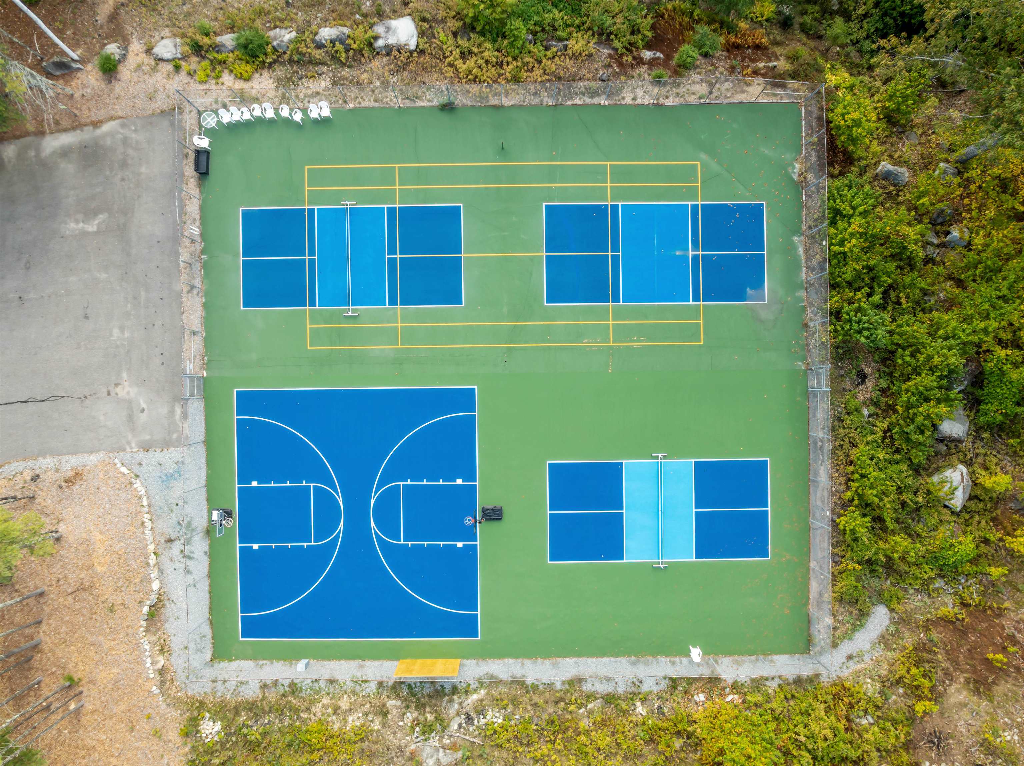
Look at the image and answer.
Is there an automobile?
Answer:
No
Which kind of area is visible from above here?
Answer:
sports ground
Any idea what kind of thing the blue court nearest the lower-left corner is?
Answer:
basketball court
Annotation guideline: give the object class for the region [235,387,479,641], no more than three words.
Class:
basketball court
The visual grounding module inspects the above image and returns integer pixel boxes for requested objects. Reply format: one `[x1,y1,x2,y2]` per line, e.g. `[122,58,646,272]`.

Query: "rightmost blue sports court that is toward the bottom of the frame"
[547,459,770,563]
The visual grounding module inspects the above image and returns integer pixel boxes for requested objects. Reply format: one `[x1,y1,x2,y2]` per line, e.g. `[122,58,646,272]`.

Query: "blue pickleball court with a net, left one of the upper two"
[240,204,464,309]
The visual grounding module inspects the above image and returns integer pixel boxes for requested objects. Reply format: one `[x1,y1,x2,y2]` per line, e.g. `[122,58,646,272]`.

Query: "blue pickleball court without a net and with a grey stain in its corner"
[544,202,767,304]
